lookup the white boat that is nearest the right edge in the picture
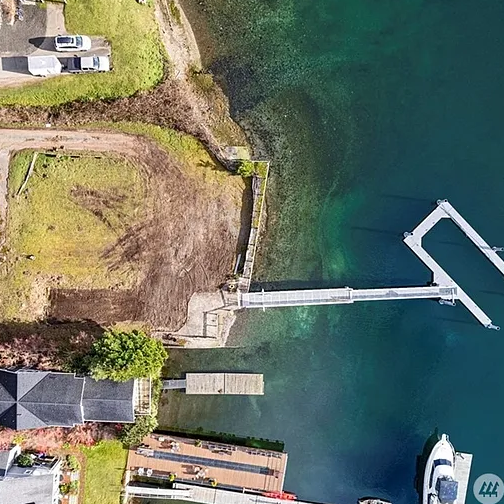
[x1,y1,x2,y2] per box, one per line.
[420,430,459,504]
